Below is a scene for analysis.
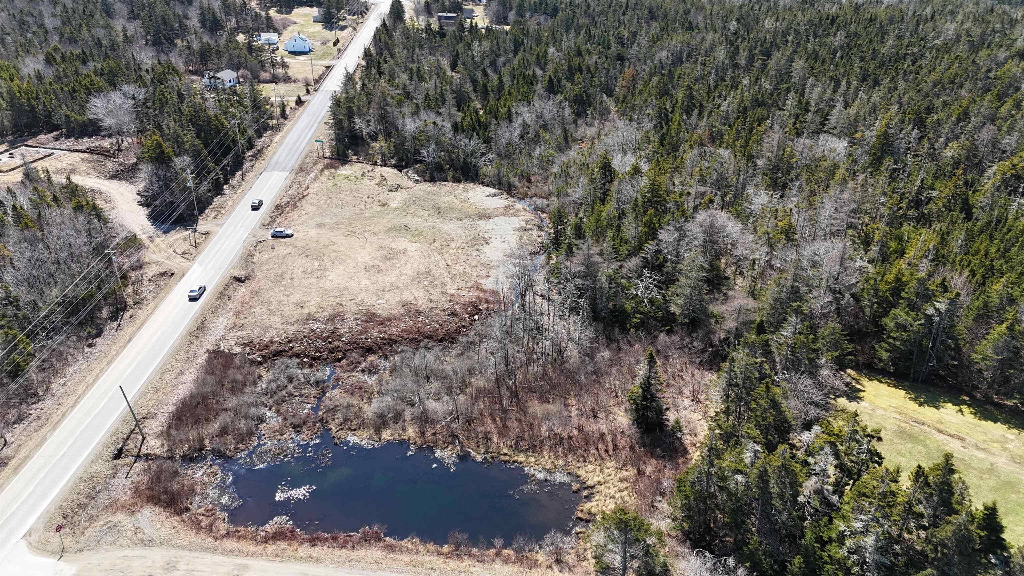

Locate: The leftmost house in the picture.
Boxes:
[207,68,244,87]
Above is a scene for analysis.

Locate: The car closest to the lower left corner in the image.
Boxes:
[187,286,206,301]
